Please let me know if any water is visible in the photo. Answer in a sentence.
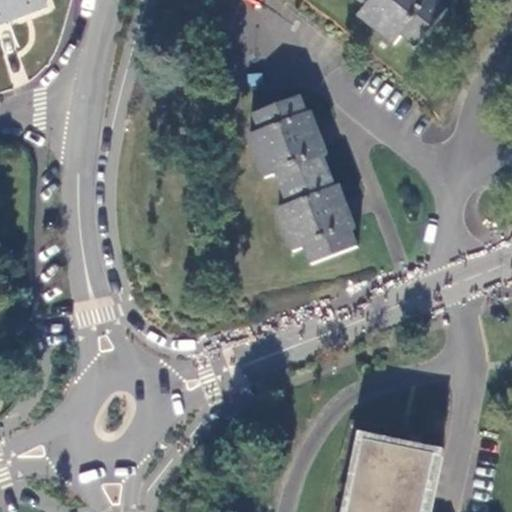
No, there's no water in this view.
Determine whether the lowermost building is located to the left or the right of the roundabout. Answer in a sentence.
Relative to the roundabout, the lowermost building is on the right.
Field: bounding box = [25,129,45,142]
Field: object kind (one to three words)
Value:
vehicle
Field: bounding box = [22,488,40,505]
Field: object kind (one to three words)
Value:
car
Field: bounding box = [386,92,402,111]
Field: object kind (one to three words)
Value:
car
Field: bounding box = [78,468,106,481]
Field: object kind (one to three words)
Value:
vehicle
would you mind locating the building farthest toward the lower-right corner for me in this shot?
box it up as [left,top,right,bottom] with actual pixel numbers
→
[340,430,442,512]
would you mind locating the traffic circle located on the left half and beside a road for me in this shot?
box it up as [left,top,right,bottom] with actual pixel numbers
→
[0,296,231,512]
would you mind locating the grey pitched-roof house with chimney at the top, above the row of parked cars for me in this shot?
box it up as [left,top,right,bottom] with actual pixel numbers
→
[356,0,446,45]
